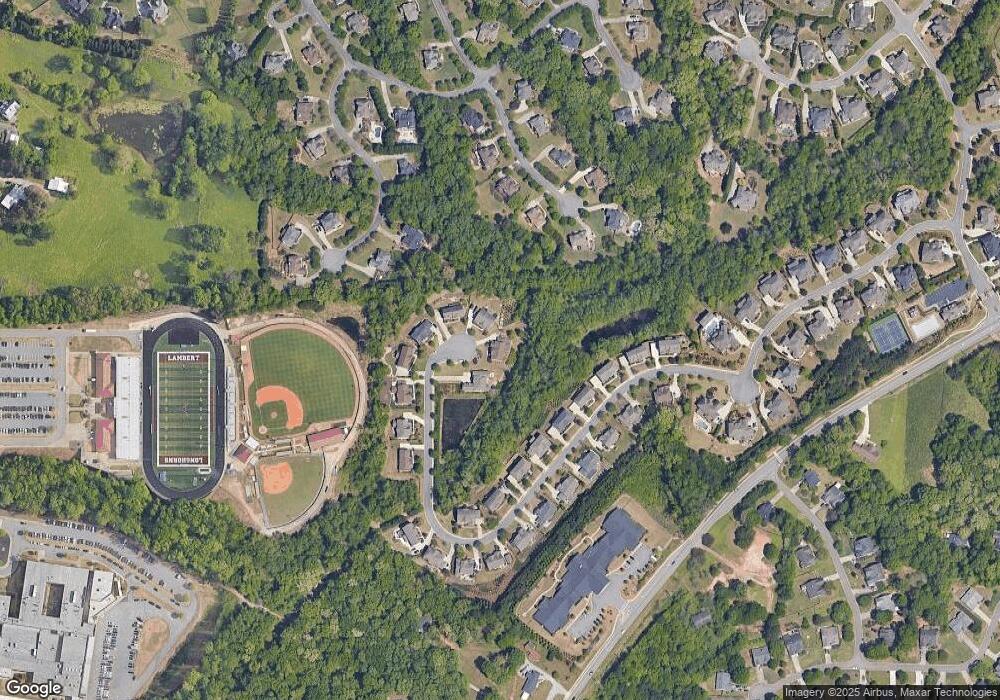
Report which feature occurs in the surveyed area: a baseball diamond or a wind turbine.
baseball diamond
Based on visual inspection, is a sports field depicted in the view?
Yes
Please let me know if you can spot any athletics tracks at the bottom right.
No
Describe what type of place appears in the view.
residential area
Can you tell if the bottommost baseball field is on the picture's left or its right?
left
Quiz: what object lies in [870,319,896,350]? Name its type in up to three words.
tennis court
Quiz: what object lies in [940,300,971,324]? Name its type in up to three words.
building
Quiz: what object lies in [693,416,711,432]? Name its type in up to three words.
swimming pool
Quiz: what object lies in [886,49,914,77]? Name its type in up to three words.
house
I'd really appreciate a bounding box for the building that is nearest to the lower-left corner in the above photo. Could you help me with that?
[0,561,114,698]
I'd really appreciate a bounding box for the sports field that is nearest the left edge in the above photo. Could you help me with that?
[153,328,215,489]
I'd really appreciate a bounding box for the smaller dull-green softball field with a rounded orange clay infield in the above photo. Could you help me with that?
[256,453,325,527]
